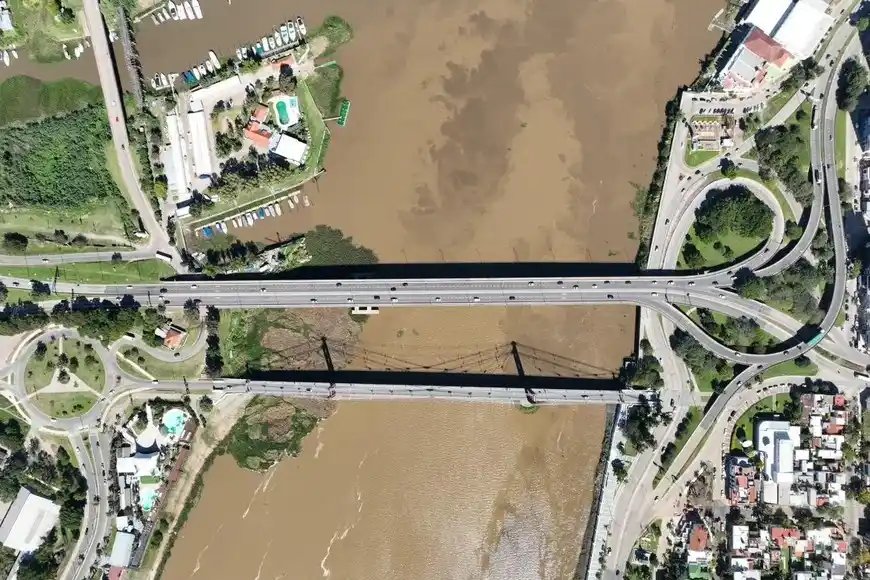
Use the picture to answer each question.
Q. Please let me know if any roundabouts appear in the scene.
Yes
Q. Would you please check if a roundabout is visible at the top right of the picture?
No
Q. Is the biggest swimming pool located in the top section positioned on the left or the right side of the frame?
left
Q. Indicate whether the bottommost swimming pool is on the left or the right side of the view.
left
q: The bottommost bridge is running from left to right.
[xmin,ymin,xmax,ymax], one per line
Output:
[240,374,650,406]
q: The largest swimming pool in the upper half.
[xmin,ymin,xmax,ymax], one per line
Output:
[274,96,299,128]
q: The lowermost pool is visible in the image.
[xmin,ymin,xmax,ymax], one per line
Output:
[139,484,162,511]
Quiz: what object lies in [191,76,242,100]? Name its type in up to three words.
shed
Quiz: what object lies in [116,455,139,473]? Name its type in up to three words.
building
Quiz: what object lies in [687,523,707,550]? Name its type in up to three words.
house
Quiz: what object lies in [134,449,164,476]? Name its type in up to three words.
building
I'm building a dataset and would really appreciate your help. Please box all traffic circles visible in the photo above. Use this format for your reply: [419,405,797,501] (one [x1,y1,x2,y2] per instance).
[14,326,116,428]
